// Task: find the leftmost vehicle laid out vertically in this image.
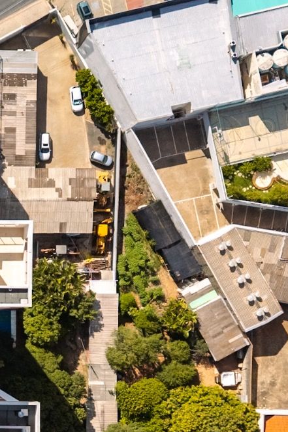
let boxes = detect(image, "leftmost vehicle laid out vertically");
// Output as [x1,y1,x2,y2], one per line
[38,133,52,161]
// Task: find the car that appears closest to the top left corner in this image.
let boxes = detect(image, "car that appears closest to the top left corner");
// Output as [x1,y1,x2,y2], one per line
[75,0,93,23]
